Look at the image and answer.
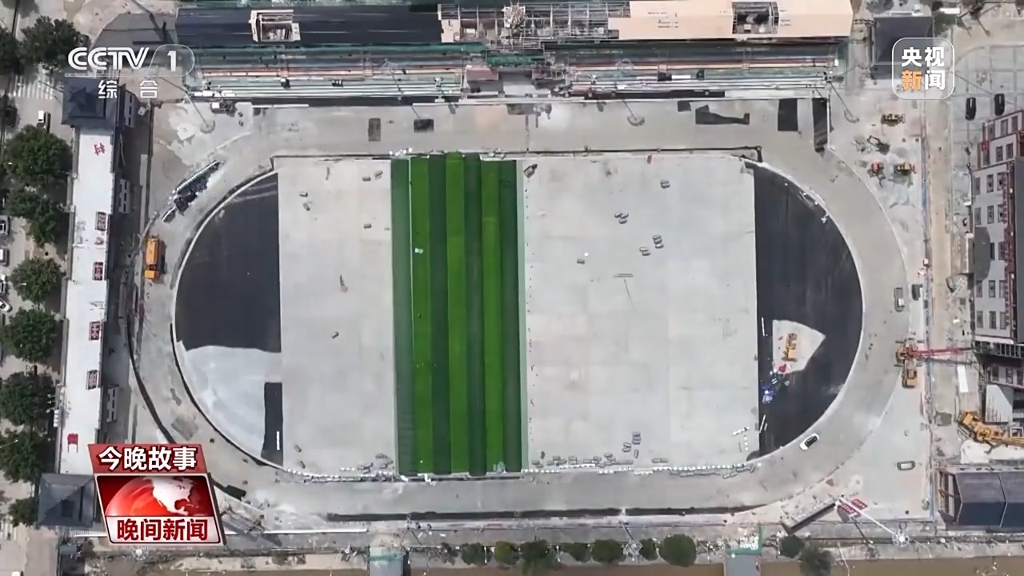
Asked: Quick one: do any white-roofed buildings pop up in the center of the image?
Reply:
No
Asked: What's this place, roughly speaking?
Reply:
sports ground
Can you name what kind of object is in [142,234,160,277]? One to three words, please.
vehicle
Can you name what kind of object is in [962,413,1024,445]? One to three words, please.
crane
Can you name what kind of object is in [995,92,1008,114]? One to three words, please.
vehicle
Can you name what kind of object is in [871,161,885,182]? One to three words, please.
work vehicle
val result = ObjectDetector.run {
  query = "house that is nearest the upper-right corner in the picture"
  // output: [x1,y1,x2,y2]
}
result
[858,12,934,88]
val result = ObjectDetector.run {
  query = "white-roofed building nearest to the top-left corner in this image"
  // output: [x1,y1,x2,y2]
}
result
[52,92,141,475]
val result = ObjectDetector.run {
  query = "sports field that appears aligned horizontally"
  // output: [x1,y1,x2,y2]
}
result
[175,152,862,476]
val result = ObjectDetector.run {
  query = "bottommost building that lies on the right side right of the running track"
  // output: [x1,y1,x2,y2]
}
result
[920,465,1024,527]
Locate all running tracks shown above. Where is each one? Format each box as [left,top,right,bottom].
[129,98,908,522]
